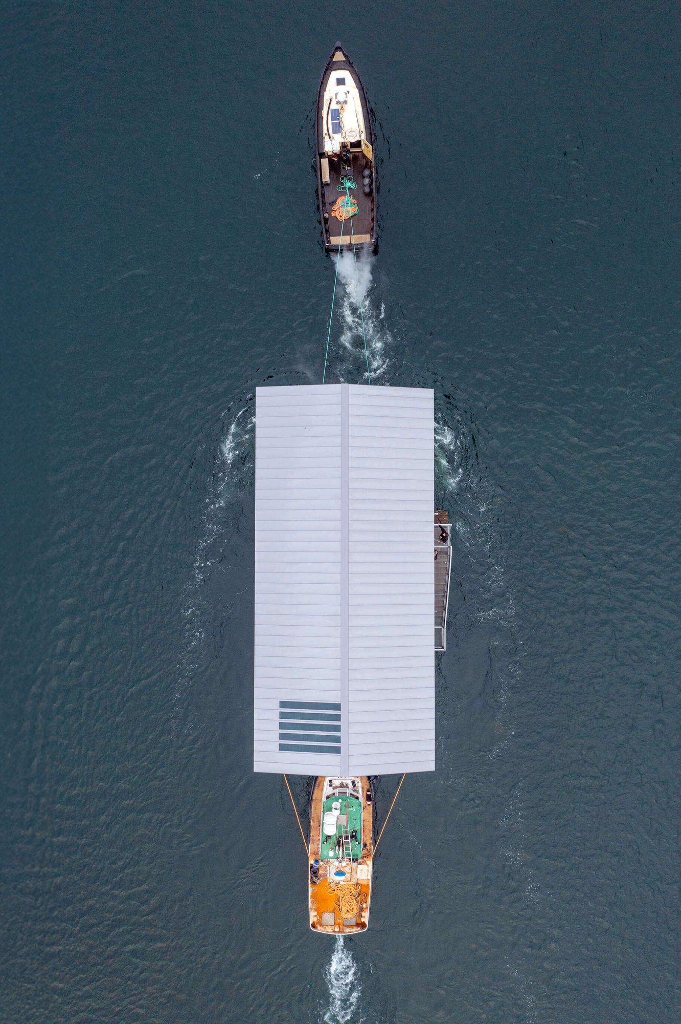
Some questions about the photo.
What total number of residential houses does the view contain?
1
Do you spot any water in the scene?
Yes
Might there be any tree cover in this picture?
No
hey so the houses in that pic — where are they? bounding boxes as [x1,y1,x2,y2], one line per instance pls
[253,384,453,778]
